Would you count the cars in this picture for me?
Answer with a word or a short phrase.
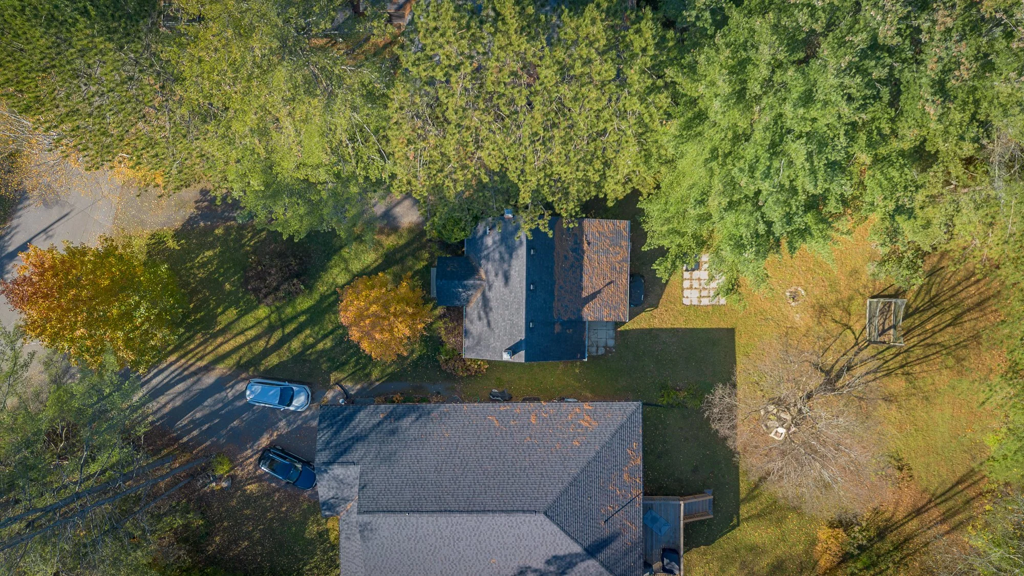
two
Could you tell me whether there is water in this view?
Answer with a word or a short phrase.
No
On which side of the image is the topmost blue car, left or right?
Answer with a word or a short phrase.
left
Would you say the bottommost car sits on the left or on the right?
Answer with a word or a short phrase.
left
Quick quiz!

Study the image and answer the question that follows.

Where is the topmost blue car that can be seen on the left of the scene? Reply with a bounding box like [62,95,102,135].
[247,379,313,412]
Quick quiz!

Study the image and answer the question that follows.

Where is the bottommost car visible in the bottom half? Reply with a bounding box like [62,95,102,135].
[256,444,316,489]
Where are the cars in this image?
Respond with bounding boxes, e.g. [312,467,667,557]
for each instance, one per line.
[256,444,316,489]
[247,379,313,412]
